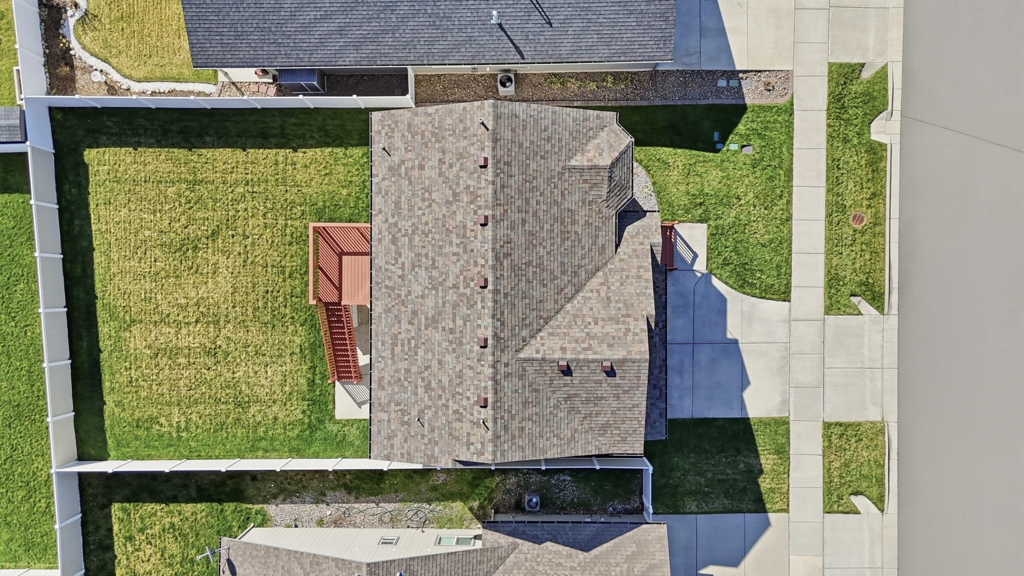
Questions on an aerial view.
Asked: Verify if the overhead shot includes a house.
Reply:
Yes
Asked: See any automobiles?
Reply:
No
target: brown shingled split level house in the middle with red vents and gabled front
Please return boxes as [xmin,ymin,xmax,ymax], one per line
[370,100,667,464]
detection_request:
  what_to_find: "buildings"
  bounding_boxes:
[0,107,27,144]
[221,501,671,576]
[180,0,677,91]
[370,100,667,464]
